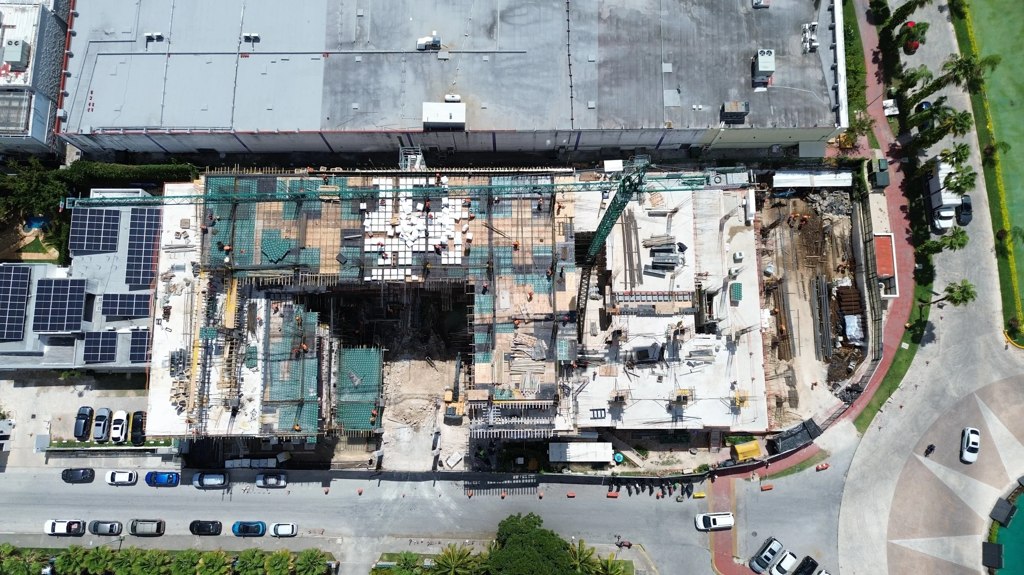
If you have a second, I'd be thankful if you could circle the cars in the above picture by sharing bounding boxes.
[146,470,182,487]
[695,512,733,531]
[233,520,266,538]
[128,518,168,537]
[771,546,794,575]
[90,519,124,537]
[128,410,148,446]
[91,408,116,443]
[73,405,98,441]
[270,522,298,537]
[815,560,835,575]
[752,536,779,574]
[106,470,140,485]
[194,471,230,489]
[256,472,289,488]
[956,196,973,226]
[791,551,817,575]
[64,467,96,484]
[192,519,223,536]
[109,410,133,444]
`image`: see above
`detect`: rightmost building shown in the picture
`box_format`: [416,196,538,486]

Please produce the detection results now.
[872,232,900,299]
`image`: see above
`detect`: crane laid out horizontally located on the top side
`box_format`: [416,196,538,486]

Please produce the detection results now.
[65,151,758,270]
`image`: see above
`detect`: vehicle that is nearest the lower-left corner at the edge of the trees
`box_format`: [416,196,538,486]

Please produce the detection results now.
[44,518,88,537]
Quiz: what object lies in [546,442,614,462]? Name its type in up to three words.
building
